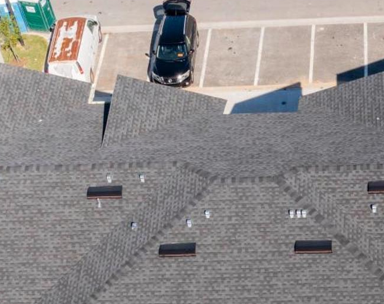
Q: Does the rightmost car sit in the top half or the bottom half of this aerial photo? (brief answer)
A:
top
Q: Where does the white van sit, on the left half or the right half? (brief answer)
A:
left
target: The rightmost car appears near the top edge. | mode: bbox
[147,0,199,89]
